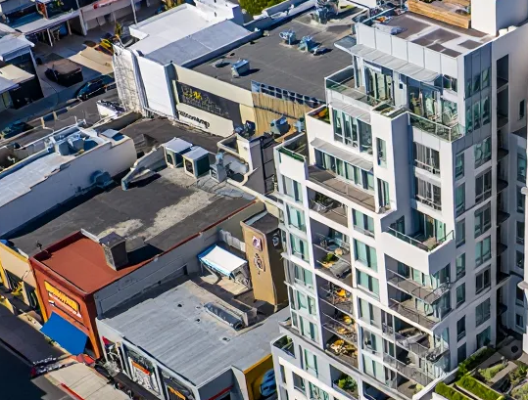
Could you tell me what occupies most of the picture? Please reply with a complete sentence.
The bulk of the photo consists of buildings.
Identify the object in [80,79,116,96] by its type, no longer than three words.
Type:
car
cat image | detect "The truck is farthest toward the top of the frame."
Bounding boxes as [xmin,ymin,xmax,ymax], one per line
[44,56,82,78]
